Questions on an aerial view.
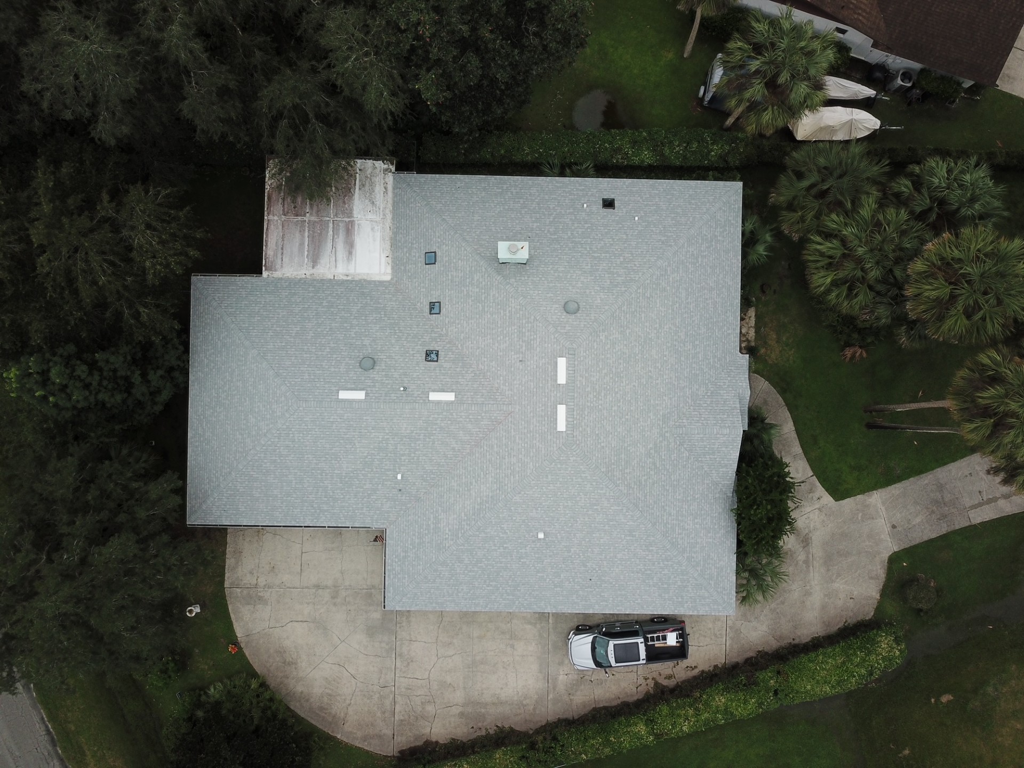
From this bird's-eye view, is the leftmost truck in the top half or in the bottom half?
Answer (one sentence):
The leftmost truck is in the bottom half of the image.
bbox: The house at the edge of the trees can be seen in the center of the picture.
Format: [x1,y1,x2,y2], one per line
[185,168,754,617]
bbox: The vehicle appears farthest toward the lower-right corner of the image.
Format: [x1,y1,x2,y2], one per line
[567,615,691,676]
